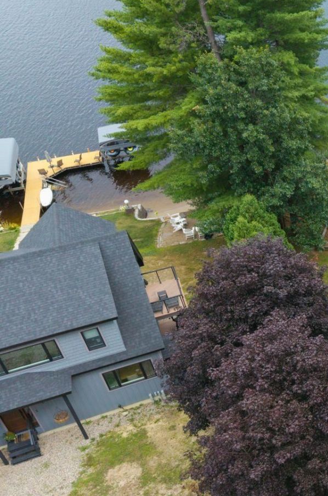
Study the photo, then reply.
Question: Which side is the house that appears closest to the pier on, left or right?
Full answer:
The house that appears closest to the pier appears in the left half of the scene.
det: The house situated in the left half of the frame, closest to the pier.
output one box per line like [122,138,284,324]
[0,201,204,464]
